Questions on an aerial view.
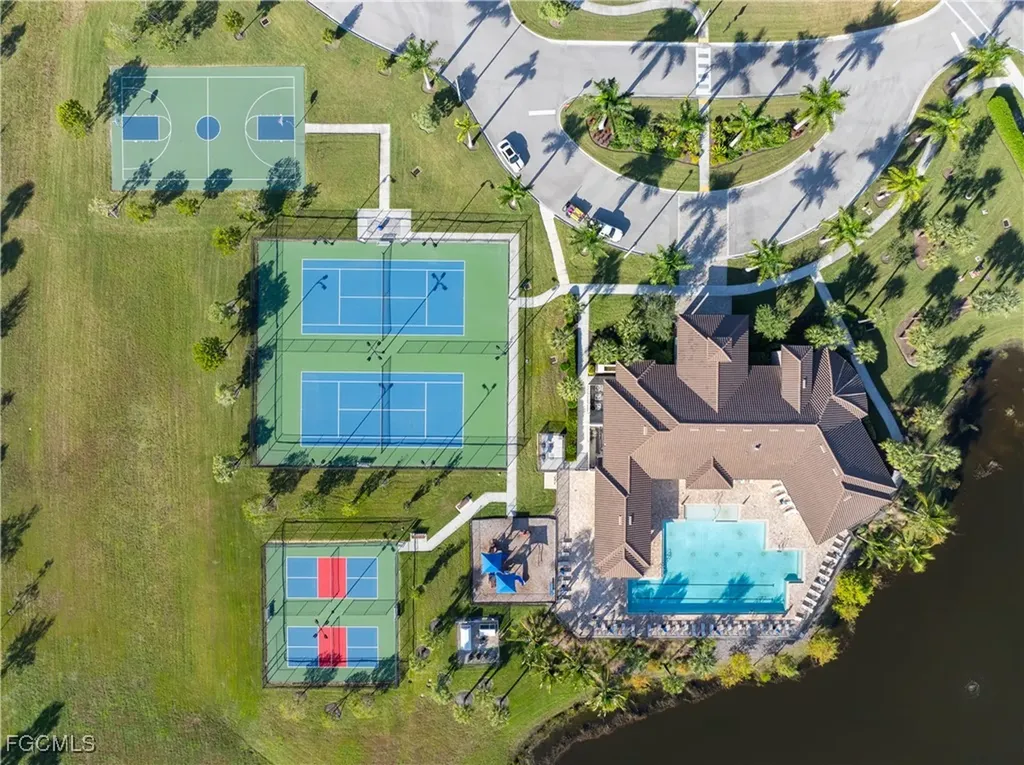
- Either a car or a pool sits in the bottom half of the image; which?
pool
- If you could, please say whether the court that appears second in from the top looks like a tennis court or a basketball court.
tennis court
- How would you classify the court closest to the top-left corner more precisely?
basketball court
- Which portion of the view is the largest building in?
right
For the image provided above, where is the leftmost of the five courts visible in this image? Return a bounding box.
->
[110,66,305,190]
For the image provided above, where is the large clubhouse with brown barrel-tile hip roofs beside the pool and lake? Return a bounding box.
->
[594,314,897,578]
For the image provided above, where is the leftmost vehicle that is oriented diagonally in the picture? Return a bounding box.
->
[498,138,525,170]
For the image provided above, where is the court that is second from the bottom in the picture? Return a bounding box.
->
[265,546,397,615]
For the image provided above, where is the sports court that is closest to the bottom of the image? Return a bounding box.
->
[265,615,396,683]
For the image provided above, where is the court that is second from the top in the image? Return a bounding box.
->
[257,240,506,354]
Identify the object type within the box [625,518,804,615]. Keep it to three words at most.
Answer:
swimming pool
